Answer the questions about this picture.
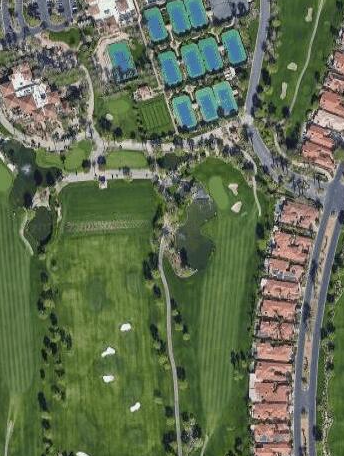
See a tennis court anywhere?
Yes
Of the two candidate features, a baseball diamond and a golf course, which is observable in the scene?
golf course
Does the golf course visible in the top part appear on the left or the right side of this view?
right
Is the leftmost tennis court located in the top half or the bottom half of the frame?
top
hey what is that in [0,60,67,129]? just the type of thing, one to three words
building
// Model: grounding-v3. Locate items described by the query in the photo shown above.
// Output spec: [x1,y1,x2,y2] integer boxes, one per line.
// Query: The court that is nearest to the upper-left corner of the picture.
[108,42,135,76]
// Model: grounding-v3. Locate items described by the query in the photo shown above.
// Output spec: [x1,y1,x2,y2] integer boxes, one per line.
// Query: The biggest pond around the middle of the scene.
[176,196,217,274]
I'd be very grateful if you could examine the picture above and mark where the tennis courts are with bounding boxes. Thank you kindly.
[210,0,233,20]
[159,51,183,84]
[185,0,207,27]
[167,0,191,32]
[108,42,135,76]
[173,95,196,128]
[199,38,222,72]
[223,30,245,63]
[182,44,203,77]
[195,87,219,121]
[213,81,236,115]
[144,7,167,41]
